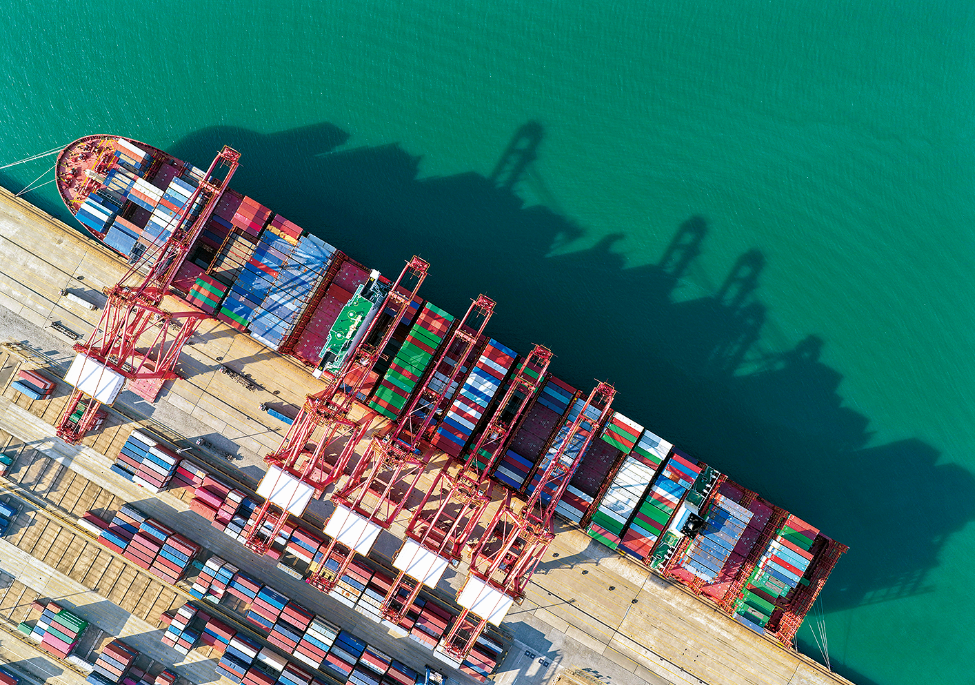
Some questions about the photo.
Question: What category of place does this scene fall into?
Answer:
port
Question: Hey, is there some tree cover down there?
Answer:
No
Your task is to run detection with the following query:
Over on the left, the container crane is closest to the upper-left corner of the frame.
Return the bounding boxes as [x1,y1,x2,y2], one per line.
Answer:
[52,140,241,437]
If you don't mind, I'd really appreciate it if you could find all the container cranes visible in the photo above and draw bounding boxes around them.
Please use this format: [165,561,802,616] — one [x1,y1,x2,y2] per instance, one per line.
[243,252,432,552]
[308,288,498,590]
[52,140,241,437]
[439,379,617,659]
[376,341,554,622]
